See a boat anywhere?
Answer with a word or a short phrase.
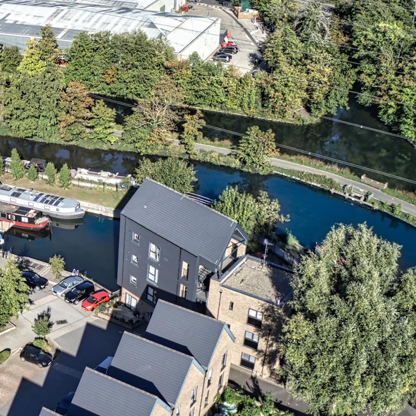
Yes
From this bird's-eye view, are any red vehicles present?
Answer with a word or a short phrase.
Yes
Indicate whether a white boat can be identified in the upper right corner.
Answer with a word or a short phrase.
No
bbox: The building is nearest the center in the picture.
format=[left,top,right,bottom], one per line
[116,175,250,321]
